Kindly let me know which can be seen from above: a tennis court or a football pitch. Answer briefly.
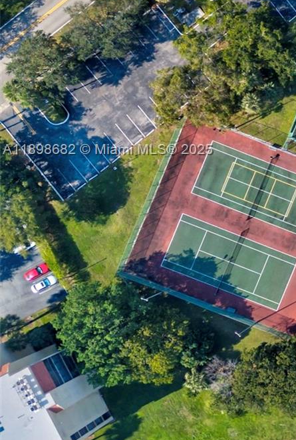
tennis court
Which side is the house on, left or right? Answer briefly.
left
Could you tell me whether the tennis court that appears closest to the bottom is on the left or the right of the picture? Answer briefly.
right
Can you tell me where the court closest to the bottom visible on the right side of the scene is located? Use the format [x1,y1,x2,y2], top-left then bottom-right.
[125,193,296,329]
